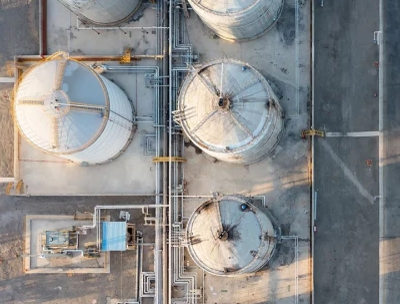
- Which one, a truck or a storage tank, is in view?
storage tank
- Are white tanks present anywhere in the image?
Yes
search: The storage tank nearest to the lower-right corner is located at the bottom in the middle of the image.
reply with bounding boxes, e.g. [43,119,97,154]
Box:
[181,195,277,275]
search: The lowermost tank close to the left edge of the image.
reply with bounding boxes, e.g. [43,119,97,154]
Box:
[12,54,138,164]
